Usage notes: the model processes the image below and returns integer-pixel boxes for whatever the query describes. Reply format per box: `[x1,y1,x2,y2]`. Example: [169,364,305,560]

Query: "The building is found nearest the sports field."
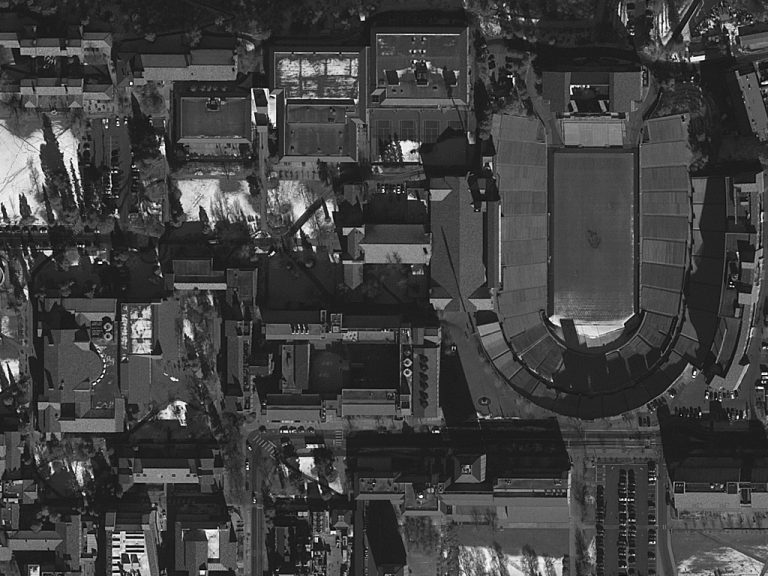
[556,112,628,148]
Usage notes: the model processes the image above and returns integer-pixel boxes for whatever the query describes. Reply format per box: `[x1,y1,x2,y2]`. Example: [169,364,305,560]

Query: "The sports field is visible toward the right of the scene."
[547,146,640,353]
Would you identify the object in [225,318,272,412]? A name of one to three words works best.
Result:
building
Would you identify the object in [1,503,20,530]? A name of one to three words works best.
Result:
house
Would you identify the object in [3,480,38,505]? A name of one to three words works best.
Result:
house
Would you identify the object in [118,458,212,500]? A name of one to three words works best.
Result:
building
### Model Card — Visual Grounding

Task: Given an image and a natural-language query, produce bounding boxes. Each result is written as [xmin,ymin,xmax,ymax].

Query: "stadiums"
[477,112,728,420]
